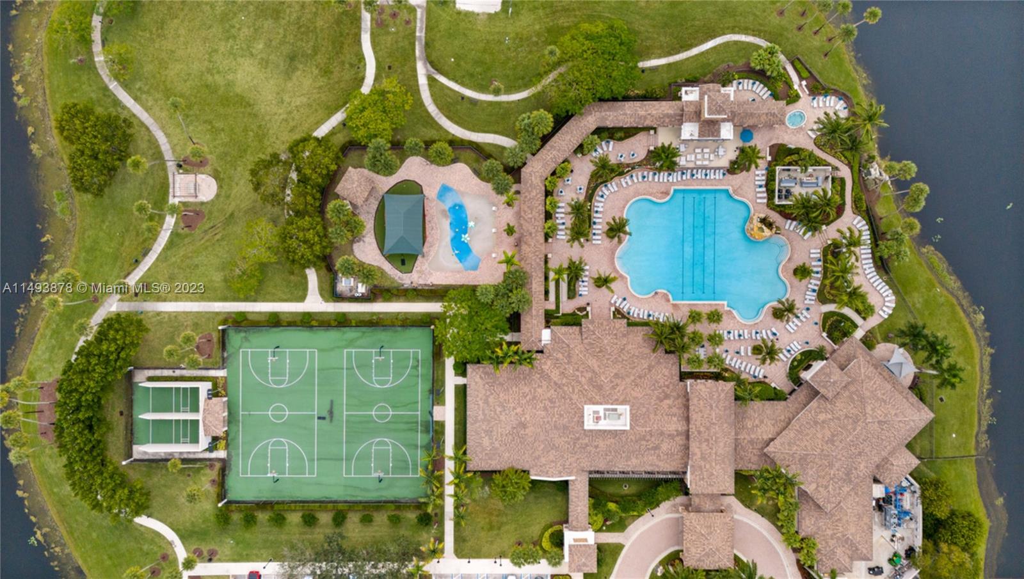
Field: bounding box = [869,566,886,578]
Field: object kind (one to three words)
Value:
vehicle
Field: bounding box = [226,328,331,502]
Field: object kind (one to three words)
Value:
basketball court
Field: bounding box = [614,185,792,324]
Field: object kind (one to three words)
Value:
swimming pool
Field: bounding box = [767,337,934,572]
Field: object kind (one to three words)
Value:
building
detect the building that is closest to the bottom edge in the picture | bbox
[562,524,597,573]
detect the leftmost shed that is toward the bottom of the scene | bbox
[204,397,230,438]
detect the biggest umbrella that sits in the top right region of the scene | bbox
[739,130,752,142]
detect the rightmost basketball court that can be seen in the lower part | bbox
[331,328,434,502]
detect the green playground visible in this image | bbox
[373,178,427,275]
